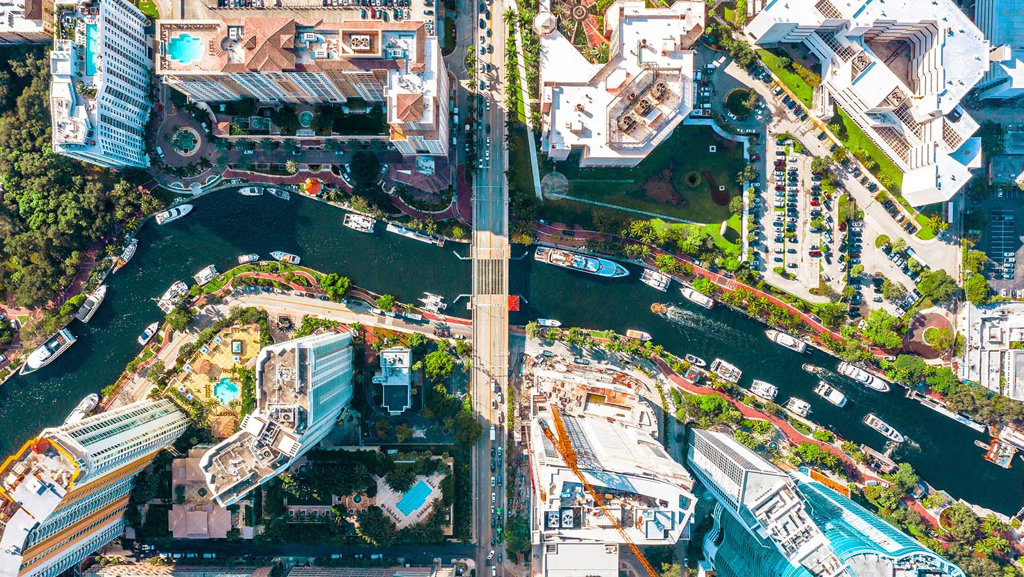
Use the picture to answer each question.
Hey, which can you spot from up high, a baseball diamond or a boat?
boat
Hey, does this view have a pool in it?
Yes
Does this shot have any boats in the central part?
Yes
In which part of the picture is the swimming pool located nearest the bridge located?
bottom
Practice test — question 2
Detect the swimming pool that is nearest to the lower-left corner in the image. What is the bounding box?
[213,376,239,405]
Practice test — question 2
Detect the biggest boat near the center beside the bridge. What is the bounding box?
[531,247,630,273]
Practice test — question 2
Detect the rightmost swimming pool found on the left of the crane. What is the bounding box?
[395,479,434,516]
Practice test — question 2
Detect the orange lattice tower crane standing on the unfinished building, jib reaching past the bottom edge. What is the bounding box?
[540,400,660,577]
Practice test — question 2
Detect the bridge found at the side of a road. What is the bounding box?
[470,166,511,443]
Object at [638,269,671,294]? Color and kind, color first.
white boat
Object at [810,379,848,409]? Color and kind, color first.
white boat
